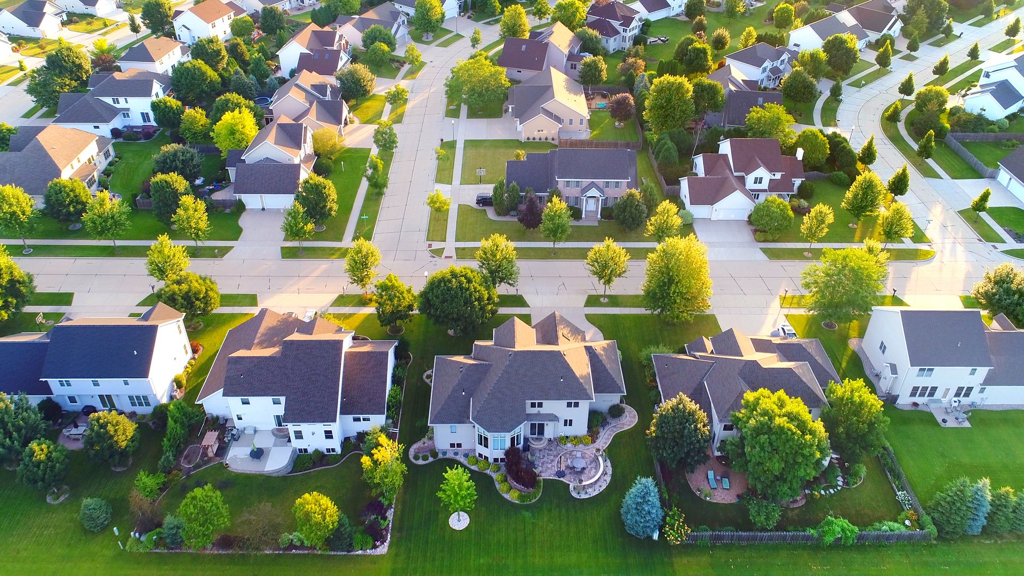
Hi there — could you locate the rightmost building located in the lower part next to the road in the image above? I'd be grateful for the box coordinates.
[864,297,1024,403]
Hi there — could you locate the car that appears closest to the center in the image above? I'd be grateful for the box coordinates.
[471,193,499,207]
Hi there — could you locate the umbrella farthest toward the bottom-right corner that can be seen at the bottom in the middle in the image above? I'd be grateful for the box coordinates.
[555,455,567,478]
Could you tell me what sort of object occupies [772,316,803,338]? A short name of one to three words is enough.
car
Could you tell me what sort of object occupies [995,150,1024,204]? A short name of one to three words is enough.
house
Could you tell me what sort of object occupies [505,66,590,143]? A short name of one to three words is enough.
house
